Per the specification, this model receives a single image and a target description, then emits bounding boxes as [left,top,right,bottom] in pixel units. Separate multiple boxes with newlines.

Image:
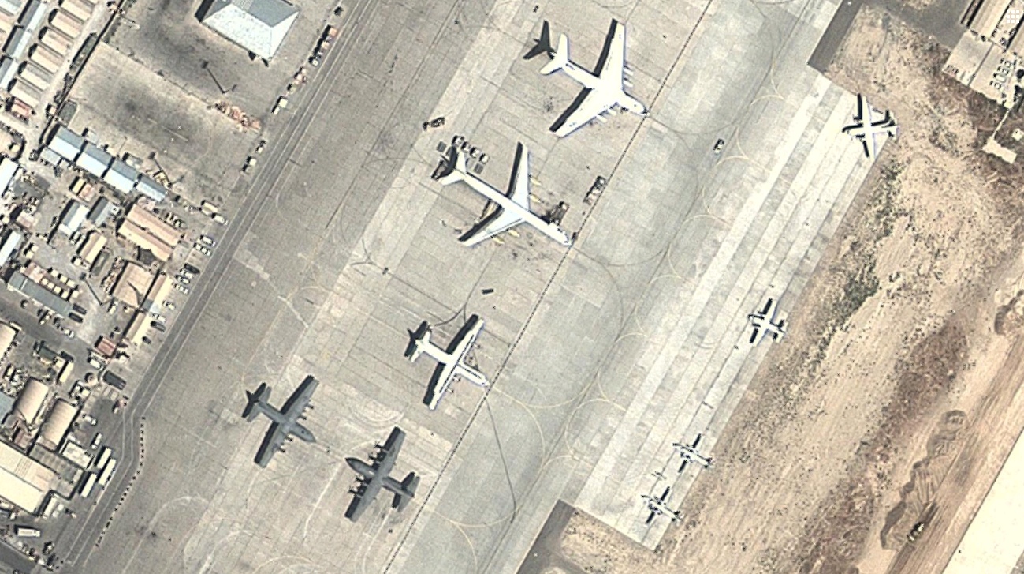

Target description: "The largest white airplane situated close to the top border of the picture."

[540,22,647,137]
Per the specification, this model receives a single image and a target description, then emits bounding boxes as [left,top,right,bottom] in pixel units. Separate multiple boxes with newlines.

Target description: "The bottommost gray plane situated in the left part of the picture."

[347,426,422,520]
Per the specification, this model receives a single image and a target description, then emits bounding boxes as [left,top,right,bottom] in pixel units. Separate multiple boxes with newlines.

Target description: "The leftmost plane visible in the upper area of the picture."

[440,146,570,245]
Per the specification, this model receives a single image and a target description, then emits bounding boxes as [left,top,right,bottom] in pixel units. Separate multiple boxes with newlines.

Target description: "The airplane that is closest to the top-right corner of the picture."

[848,98,902,161]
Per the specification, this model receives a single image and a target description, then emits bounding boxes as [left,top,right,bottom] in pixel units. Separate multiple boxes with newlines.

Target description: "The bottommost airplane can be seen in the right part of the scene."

[645,488,682,529]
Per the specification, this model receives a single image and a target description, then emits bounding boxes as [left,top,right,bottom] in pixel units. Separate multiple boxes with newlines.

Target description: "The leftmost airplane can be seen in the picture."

[243,376,317,468]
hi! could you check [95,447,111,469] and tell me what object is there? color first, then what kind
white vehicle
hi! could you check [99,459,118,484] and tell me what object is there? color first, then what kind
white vehicle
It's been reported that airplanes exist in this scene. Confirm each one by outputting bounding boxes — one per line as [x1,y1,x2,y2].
[848,98,902,161]
[645,488,682,529]
[440,146,570,245]
[411,321,489,408]
[751,299,788,346]
[540,22,647,137]
[676,435,713,476]
[243,376,317,468]
[347,426,422,520]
